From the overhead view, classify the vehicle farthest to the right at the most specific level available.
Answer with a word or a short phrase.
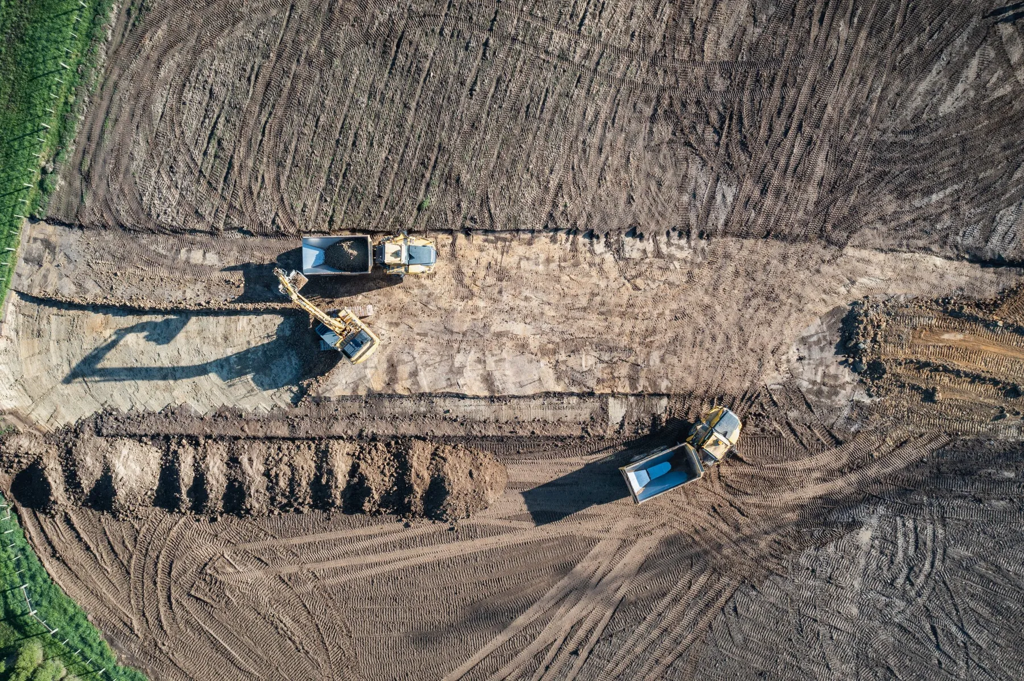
truck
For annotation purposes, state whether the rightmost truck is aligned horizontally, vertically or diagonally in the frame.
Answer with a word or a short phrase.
diagonally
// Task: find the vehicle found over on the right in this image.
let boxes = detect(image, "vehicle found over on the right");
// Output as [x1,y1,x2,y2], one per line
[621,404,741,503]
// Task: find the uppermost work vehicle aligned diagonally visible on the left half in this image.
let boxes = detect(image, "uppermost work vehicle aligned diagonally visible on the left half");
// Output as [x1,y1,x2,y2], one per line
[276,267,380,361]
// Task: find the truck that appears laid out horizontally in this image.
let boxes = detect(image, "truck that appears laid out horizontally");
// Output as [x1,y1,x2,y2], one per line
[300,233,437,279]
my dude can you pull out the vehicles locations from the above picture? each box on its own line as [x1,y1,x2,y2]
[276,267,380,361]
[621,404,741,503]
[300,233,437,279]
